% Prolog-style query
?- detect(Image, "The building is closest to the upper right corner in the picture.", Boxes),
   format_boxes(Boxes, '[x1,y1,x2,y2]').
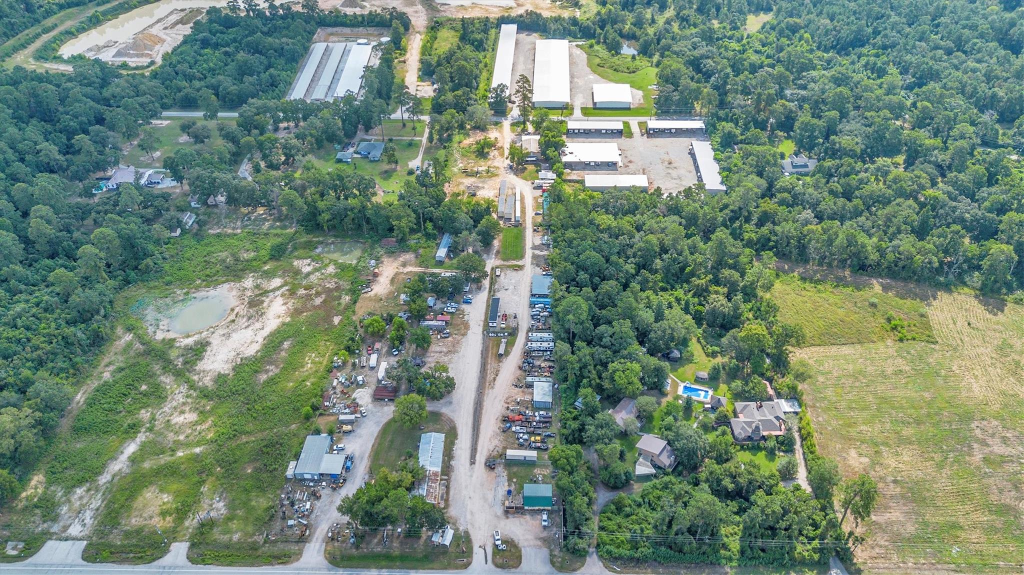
[779,156,820,177]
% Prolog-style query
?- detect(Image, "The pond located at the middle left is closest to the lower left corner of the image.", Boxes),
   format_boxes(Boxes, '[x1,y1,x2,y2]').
[166,287,237,334]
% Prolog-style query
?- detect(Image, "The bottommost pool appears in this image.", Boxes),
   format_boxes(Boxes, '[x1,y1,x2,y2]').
[681,385,711,400]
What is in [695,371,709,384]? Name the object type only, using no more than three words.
gazebo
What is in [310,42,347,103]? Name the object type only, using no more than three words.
building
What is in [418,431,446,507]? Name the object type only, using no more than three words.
barn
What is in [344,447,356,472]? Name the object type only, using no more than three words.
vehicle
